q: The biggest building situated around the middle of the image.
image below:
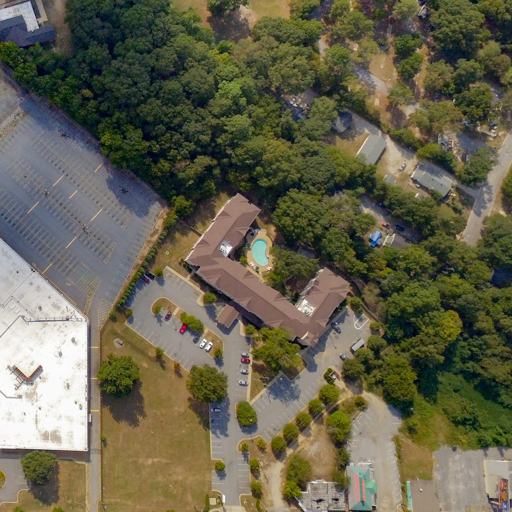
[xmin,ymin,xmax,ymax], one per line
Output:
[181,198,344,349]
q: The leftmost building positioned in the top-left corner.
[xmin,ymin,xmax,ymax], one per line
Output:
[0,1,57,47]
